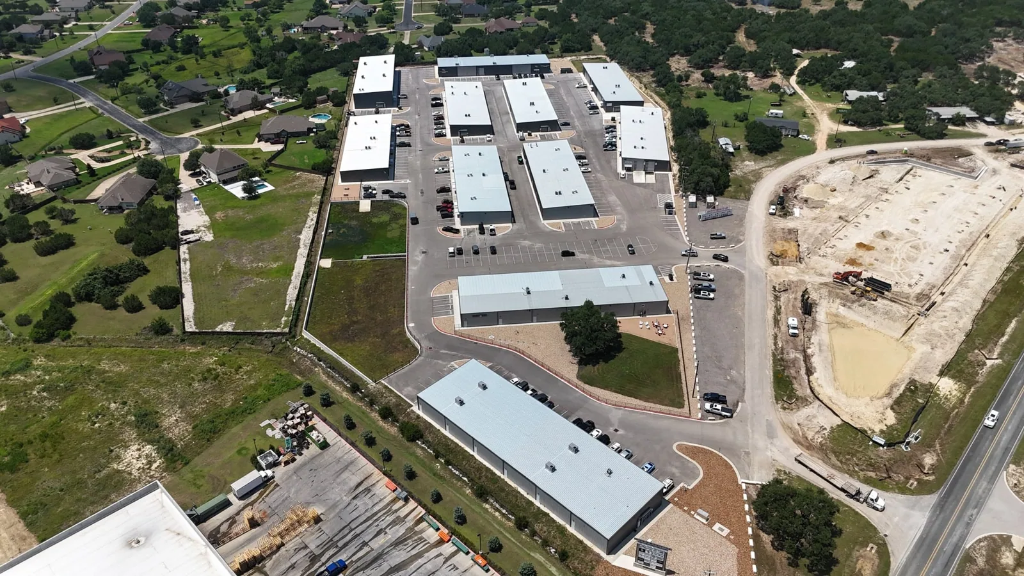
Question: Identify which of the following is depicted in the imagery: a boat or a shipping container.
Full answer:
This aerial view contains a shipping container.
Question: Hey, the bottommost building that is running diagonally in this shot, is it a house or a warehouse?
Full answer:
It turns out the bottommost building that is running diagonally is a warehouse.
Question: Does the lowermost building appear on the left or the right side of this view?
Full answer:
It is on the left.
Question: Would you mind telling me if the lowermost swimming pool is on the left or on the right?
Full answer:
The lowermost swimming pool appears in the left half of the scene.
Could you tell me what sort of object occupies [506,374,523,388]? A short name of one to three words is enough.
car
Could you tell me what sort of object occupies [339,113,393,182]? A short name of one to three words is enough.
building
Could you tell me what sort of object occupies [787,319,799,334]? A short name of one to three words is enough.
vehicle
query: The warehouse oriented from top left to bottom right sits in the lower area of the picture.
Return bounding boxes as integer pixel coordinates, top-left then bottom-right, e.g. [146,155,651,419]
[416,361,664,556]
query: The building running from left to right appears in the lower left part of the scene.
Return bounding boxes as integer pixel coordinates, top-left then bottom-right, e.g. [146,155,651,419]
[0,480,223,576]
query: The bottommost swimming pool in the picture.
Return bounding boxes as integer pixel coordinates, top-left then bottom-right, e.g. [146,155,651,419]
[232,177,275,198]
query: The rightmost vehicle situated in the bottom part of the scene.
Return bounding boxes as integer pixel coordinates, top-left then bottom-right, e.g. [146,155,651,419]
[984,411,999,427]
